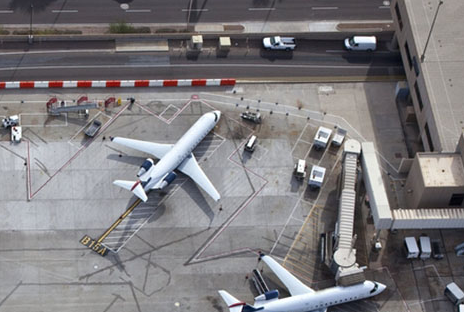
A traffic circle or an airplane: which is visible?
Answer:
airplane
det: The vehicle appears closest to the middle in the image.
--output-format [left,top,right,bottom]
[243,134,258,154]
